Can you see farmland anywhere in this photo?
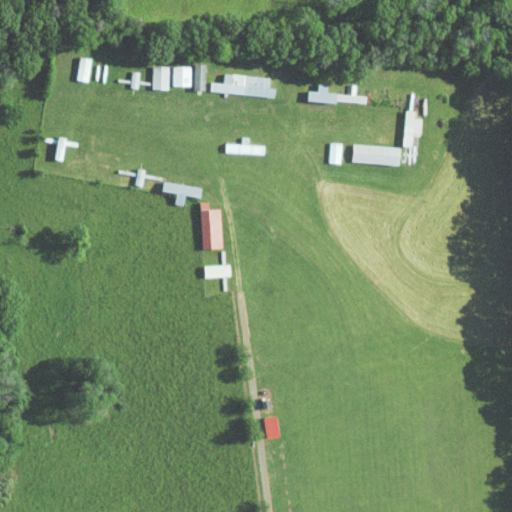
Yes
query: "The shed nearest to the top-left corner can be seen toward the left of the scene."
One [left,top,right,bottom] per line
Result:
[78,58,92,84]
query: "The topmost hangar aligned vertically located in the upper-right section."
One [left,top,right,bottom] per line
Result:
[404,92,424,148]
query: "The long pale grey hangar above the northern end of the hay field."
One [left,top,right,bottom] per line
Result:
[352,144,402,166]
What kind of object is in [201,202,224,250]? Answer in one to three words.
barn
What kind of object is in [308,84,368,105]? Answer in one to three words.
hangar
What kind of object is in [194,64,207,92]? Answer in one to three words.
shed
